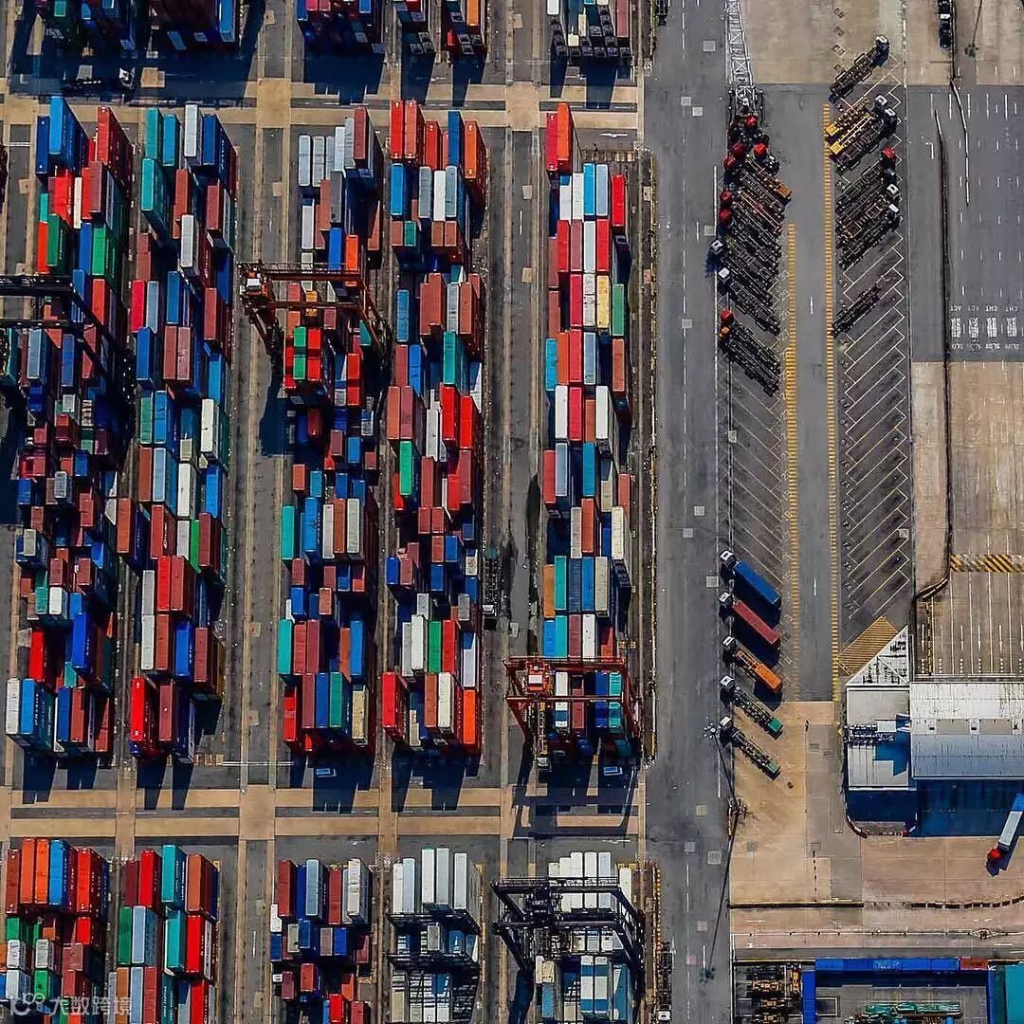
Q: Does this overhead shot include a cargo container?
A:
Yes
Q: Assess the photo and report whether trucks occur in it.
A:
Yes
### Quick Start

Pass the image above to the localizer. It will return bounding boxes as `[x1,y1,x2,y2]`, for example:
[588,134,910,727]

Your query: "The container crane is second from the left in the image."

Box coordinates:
[236,267,396,385]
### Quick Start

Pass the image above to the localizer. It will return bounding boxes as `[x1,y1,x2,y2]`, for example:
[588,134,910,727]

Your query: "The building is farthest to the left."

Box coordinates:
[847,691,911,798]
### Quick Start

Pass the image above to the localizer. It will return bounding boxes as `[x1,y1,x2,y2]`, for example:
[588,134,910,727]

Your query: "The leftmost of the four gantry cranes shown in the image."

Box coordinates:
[0,277,129,407]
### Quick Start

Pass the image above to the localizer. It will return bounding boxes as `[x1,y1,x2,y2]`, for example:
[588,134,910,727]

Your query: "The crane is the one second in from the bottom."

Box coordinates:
[501,652,646,756]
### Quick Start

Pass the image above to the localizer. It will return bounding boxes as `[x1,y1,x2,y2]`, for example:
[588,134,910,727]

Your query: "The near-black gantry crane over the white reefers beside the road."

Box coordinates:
[489,880,642,967]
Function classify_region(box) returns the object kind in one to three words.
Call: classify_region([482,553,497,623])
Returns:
vehicle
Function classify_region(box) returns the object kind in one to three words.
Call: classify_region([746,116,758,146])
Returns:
vehicle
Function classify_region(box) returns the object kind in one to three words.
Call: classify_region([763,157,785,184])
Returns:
truck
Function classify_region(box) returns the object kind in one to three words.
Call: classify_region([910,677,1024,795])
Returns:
shed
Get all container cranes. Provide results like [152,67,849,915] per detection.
[489,880,642,967]
[236,267,396,385]
[501,652,646,756]
[0,277,129,407]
